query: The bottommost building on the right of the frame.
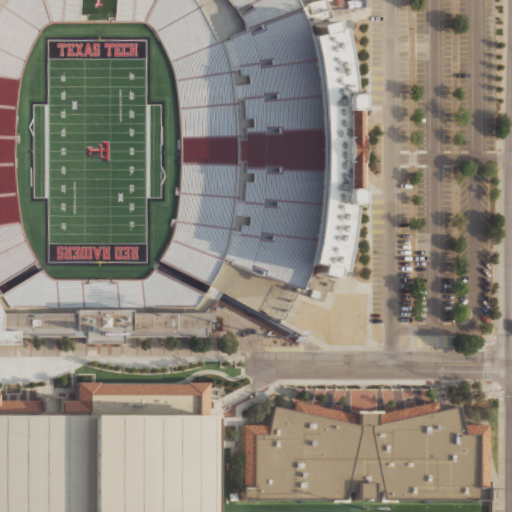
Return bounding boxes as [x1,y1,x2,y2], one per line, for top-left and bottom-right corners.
[245,398,491,503]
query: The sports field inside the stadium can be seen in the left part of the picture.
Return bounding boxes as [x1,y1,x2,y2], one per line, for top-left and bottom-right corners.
[16,22,182,282]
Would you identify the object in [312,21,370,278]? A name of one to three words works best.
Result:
building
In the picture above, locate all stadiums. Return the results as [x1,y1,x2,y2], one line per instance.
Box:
[0,0,326,312]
